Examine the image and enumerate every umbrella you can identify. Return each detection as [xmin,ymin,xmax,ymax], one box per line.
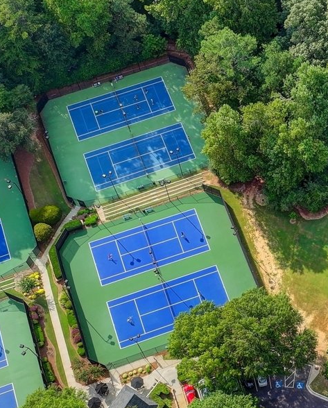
[88,397,102,408]
[129,375,144,391]
[94,383,109,397]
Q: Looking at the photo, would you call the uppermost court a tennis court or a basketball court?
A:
tennis court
